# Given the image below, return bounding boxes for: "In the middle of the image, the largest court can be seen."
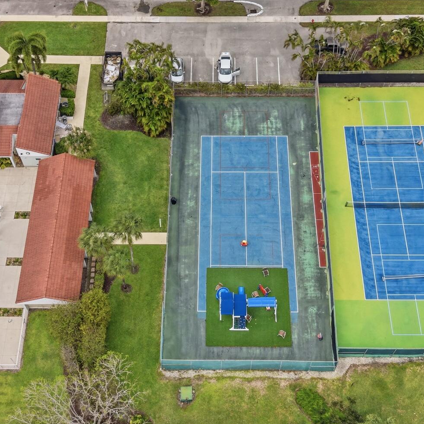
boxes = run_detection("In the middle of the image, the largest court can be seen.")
[163,97,332,368]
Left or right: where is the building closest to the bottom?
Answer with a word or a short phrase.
left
